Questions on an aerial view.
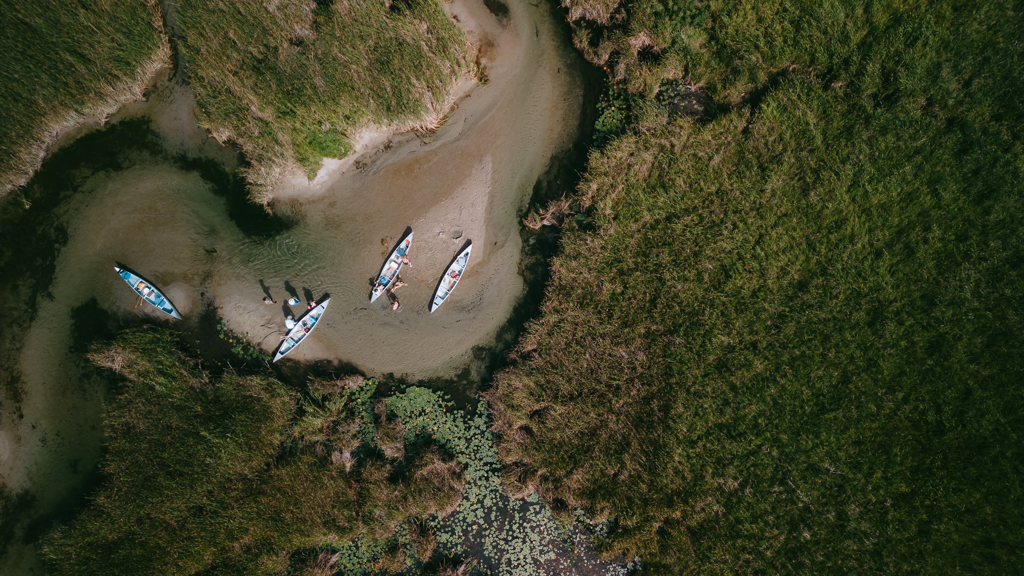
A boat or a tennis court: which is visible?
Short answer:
boat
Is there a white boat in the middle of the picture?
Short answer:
Yes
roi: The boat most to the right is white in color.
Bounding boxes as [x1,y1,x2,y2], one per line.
[430,244,472,312]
